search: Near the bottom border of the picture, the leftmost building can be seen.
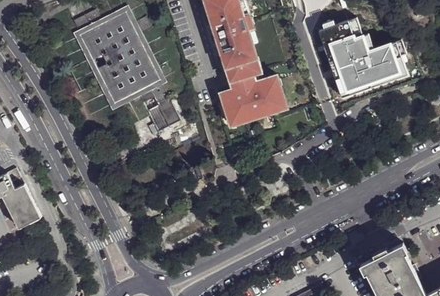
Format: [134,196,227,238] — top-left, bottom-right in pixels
[360,245,426,296]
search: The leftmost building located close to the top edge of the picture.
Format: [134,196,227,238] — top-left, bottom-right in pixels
[74,6,168,110]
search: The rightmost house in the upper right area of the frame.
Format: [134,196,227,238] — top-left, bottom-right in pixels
[320,20,412,100]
